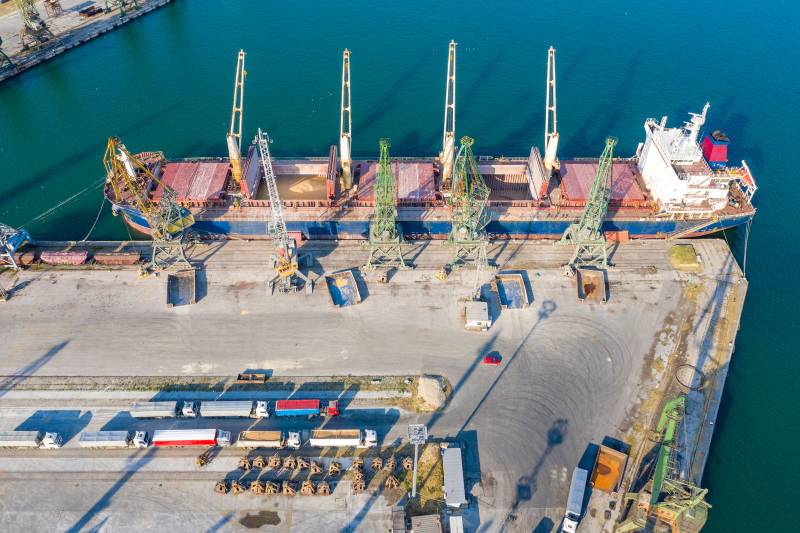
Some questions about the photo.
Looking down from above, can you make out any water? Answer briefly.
Yes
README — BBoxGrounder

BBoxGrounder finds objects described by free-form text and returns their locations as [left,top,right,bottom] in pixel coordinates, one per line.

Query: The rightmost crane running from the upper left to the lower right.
[108,132,201,268]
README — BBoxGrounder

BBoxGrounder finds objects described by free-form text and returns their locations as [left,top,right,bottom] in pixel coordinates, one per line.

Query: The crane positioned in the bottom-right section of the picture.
[618,390,705,533]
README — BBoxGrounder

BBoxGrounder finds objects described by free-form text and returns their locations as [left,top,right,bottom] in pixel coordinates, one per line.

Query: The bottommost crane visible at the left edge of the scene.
[0,205,41,268]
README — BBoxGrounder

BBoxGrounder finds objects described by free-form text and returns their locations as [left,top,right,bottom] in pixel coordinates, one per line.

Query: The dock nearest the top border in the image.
[0,0,184,87]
